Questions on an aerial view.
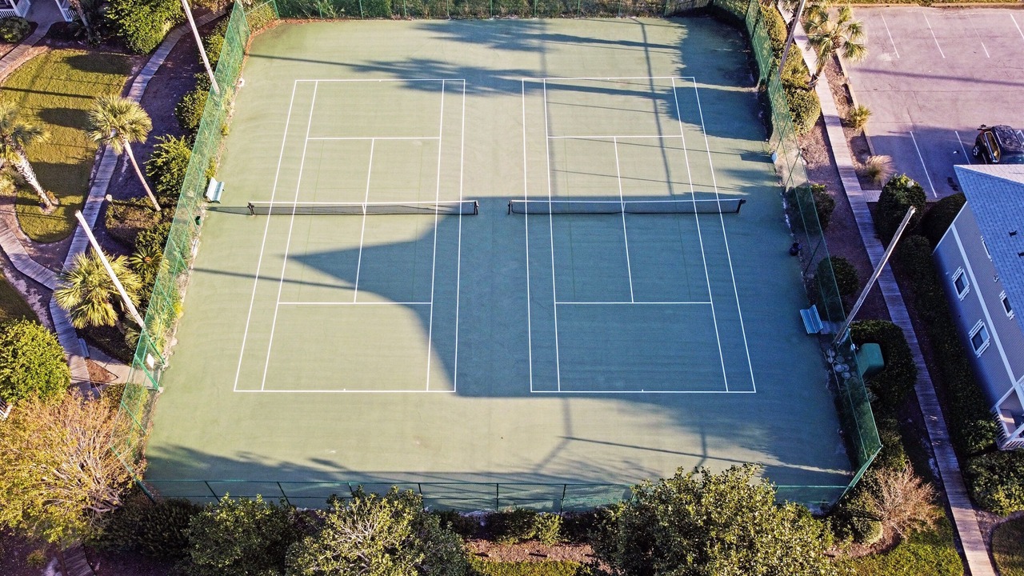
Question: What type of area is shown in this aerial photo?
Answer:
sports ground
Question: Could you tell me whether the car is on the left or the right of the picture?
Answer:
right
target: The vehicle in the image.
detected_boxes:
[977,129,1024,165]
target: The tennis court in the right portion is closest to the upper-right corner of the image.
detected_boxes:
[493,15,856,511]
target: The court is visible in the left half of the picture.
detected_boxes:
[145,19,495,511]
